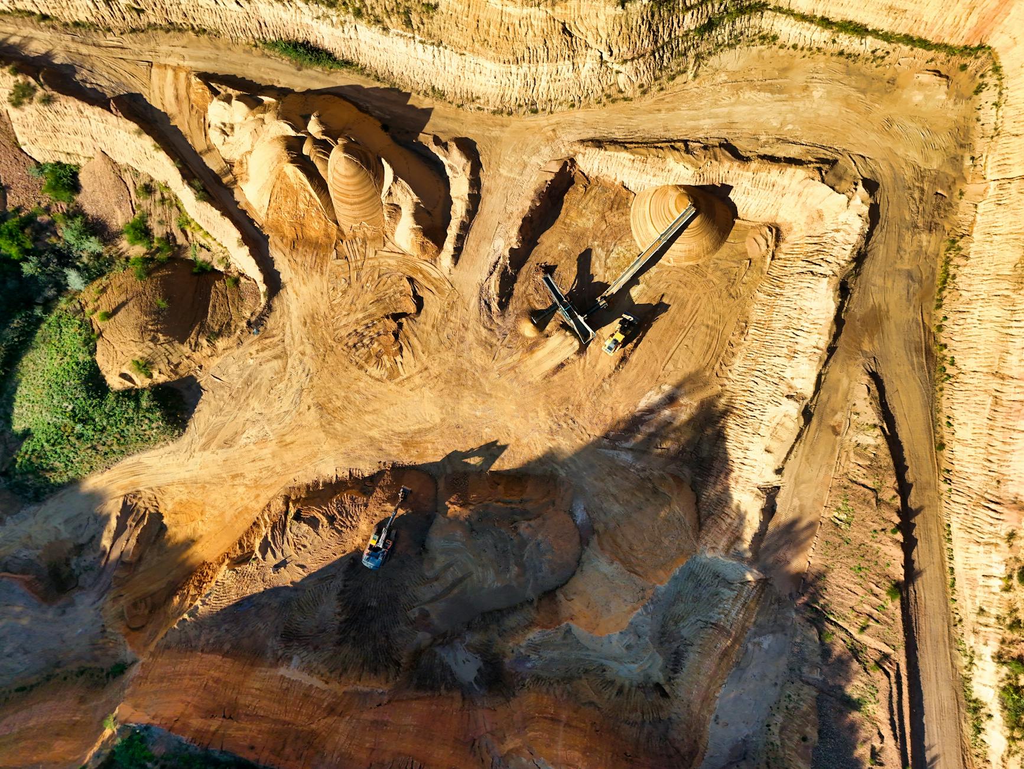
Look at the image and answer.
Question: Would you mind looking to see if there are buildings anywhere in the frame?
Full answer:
No, there's no building here.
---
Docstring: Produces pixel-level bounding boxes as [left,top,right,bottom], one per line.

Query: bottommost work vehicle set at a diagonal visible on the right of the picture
[604,309,642,356]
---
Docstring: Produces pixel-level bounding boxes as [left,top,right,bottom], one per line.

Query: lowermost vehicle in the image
[359,491,408,580]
